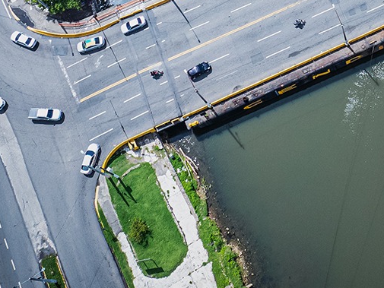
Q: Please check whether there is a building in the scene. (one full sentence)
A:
No, there appears to be no building in this shot.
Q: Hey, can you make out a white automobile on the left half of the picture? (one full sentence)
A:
Yes, I can see a white automobile on the left half of the picture.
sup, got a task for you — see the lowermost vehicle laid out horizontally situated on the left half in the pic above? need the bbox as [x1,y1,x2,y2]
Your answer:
[23,107,64,123]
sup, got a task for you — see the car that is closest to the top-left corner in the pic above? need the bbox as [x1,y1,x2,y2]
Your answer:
[9,30,39,51]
